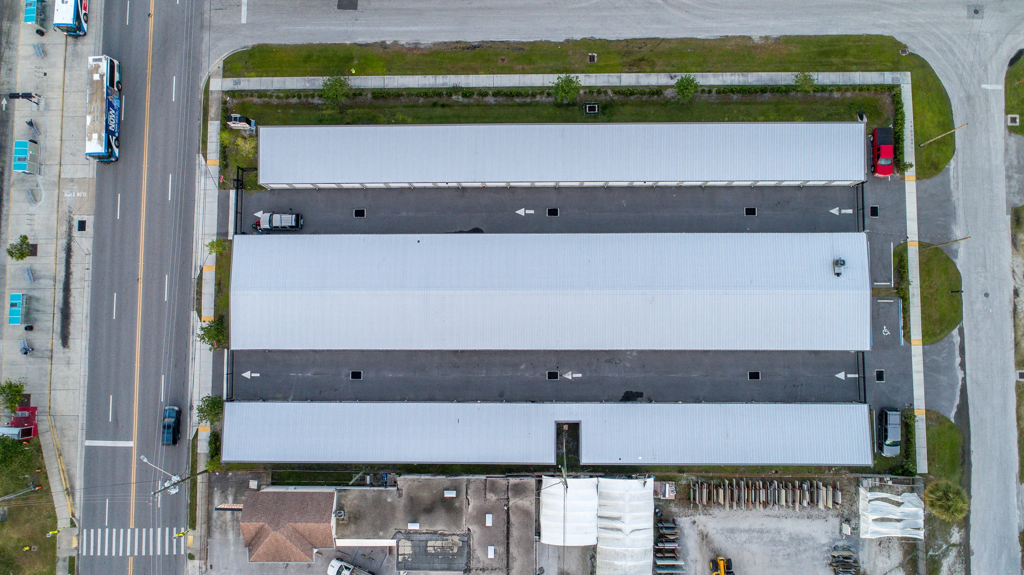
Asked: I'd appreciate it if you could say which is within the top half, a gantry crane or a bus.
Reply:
bus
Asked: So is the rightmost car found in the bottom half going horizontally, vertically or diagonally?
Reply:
vertically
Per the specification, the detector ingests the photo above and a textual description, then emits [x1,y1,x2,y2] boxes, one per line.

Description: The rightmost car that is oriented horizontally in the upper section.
[261,211,304,231]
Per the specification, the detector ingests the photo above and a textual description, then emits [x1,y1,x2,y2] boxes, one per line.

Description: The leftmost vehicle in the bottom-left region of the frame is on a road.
[159,405,181,447]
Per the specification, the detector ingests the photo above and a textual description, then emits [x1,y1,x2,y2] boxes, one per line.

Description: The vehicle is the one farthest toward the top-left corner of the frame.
[56,0,91,38]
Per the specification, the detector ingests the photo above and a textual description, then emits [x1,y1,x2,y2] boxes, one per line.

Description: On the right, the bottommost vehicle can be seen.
[707,555,731,575]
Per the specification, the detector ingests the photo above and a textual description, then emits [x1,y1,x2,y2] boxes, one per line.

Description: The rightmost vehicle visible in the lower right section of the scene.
[877,408,902,457]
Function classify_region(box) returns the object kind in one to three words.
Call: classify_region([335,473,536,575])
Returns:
building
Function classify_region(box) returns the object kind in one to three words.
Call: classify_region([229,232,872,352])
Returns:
building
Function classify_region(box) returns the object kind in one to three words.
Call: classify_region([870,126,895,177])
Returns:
truck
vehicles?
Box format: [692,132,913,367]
[159,405,181,447]
[261,211,304,231]
[56,0,91,38]
[877,408,902,457]
[85,55,121,163]
[328,557,379,575]
[707,555,731,575]
[870,126,895,177]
